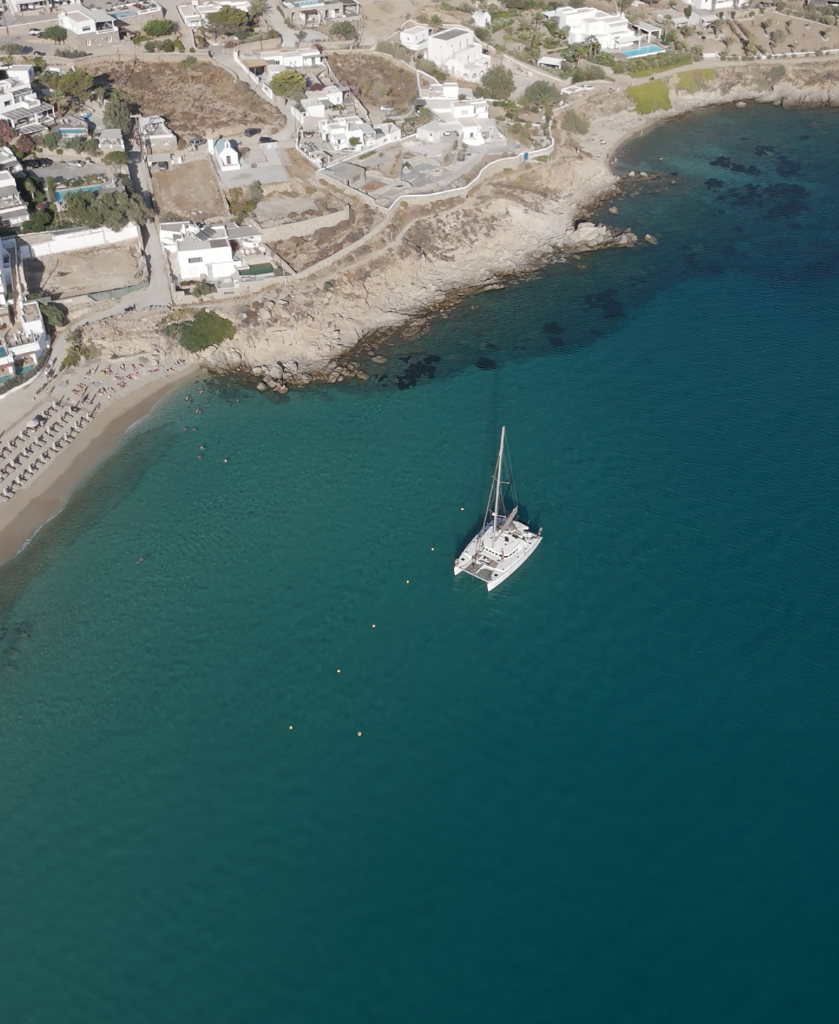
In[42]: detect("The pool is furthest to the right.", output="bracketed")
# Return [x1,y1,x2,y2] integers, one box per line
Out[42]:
[620,45,667,57]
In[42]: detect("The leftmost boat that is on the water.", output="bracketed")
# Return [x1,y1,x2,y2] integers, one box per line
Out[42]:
[455,431,546,601]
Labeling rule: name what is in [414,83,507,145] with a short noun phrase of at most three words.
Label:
house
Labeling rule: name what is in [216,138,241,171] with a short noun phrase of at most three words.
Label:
building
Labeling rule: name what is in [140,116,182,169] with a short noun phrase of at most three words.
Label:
house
